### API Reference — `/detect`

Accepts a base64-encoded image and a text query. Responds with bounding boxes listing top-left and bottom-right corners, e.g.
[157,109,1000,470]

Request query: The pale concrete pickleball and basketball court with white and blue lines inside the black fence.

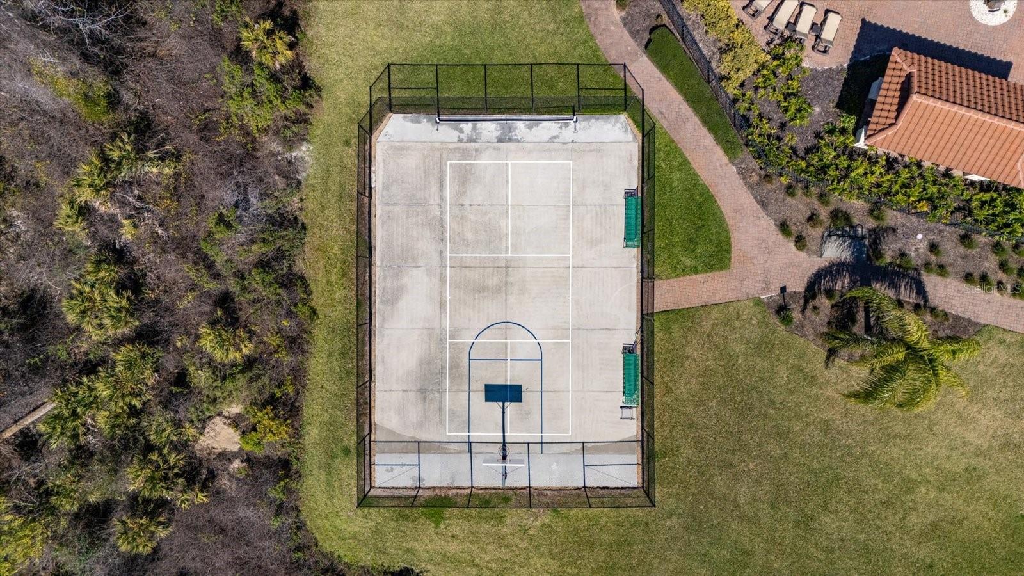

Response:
[374,115,639,487]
